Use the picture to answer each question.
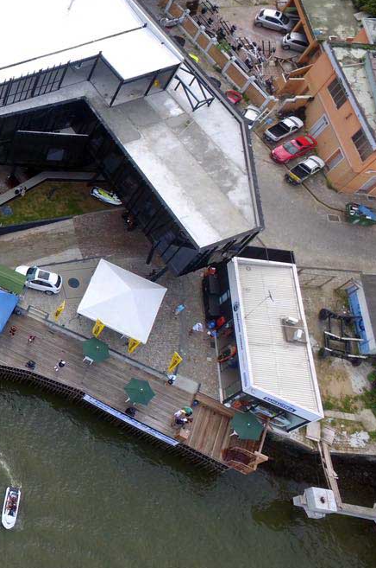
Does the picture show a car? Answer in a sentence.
Yes, I can see a car in this picture.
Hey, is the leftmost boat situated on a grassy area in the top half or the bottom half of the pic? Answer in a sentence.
The leftmost boat situated on a grassy area is in the top half of the image.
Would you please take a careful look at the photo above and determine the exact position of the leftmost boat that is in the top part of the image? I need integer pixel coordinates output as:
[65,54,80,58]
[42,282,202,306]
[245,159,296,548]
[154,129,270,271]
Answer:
[90,186,123,206]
